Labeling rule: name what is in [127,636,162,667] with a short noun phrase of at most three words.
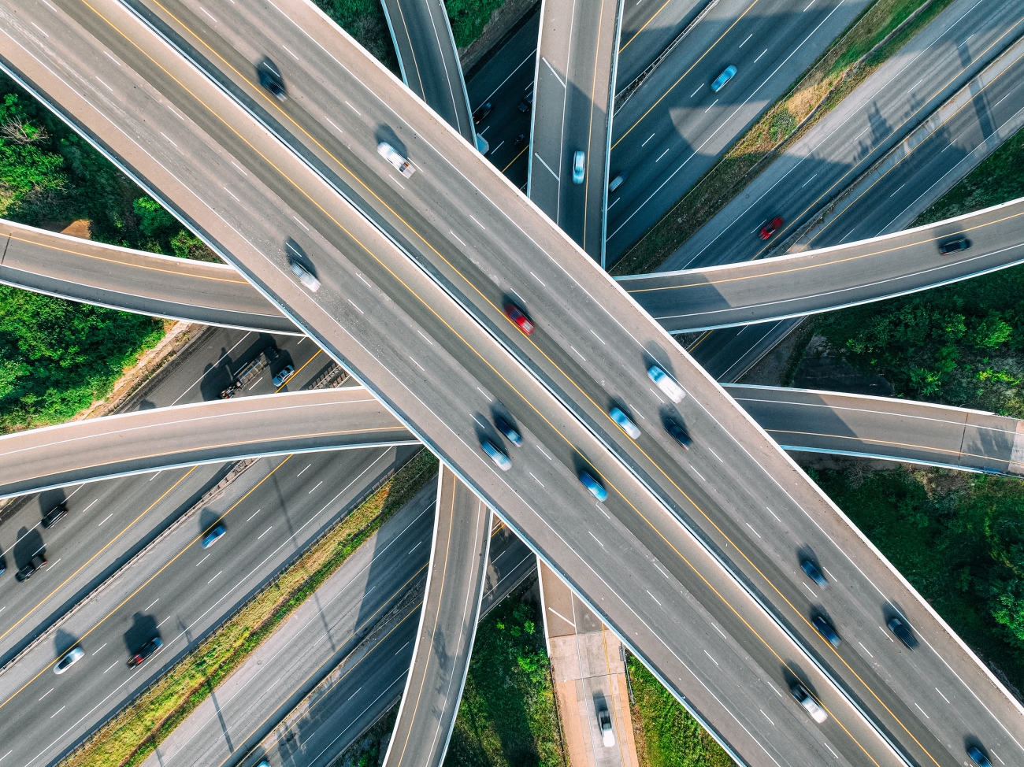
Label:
truck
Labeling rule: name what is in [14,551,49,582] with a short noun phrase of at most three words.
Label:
truck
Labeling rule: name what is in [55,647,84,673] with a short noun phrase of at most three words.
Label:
car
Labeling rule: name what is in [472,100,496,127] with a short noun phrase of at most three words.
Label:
car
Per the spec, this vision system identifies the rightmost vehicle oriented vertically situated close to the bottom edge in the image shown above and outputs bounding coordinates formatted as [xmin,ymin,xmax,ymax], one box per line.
[596,704,614,744]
